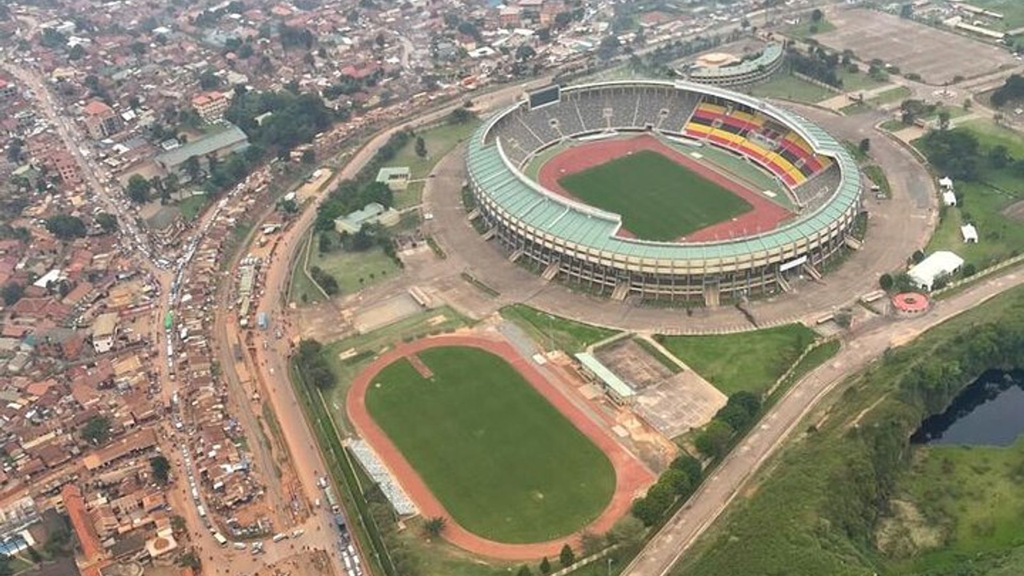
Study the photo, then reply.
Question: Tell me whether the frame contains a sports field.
Yes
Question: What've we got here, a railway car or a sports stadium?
sports stadium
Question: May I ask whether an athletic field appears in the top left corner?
No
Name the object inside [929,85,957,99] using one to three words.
fountain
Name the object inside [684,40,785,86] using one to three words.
stadium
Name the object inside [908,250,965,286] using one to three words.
tent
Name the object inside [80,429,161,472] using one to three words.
shed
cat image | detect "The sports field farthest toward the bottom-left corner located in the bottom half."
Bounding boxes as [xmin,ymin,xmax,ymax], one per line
[365,345,616,544]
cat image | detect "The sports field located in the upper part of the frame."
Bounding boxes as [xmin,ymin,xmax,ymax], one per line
[560,149,755,240]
